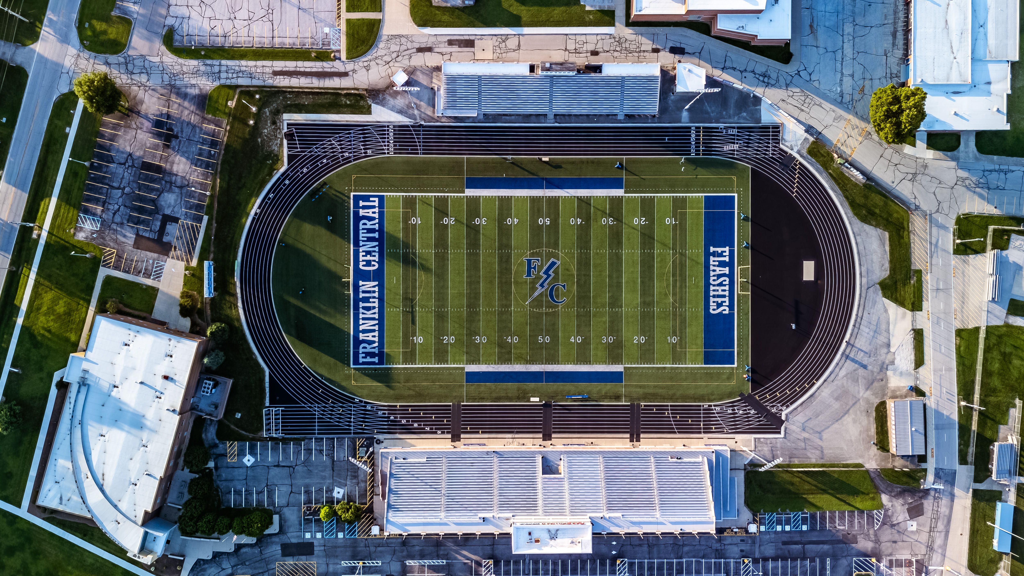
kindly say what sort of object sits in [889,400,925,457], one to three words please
building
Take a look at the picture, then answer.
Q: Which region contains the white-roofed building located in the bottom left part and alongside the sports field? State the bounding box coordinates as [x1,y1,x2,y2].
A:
[37,315,209,565]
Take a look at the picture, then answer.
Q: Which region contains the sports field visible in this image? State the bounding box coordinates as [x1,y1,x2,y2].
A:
[271,156,751,403]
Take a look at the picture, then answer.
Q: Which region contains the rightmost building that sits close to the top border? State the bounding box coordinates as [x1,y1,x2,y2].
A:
[895,0,1019,133]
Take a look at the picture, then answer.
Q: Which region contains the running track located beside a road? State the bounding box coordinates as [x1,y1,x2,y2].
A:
[237,118,860,438]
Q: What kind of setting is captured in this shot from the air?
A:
sports ground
